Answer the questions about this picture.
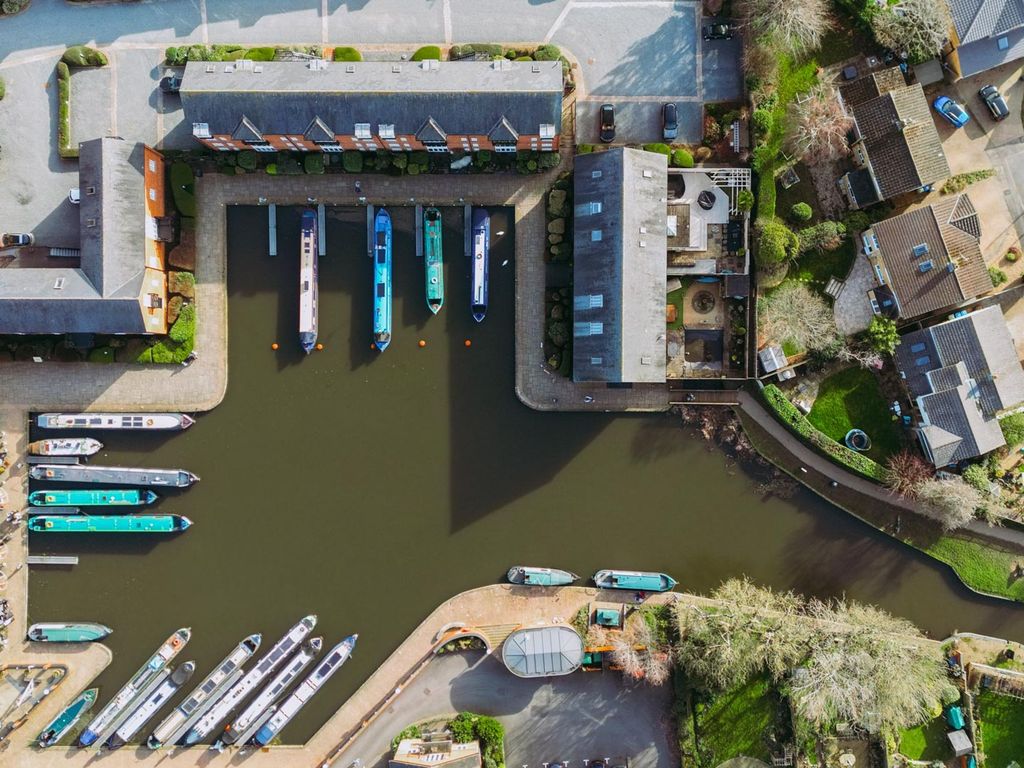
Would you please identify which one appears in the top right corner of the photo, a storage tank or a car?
car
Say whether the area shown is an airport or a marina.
marina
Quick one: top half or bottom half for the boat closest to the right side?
bottom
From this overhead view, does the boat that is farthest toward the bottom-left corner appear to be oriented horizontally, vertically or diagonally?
diagonally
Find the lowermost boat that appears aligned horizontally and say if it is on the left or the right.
left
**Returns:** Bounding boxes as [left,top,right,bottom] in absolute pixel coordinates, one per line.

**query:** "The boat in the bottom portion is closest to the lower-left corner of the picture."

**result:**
[36,688,100,750]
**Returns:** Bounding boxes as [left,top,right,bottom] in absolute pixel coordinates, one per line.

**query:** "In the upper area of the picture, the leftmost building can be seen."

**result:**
[0,134,178,348]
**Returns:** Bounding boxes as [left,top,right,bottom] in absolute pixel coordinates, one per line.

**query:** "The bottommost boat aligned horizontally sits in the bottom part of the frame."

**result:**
[26,621,114,642]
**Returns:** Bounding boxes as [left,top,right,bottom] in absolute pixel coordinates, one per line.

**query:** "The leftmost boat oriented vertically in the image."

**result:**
[300,207,319,355]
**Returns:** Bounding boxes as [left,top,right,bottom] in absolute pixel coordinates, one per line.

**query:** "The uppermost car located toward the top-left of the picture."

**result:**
[155,69,187,88]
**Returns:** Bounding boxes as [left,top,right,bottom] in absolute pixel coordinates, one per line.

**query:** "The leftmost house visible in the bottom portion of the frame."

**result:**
[380,719,481,768]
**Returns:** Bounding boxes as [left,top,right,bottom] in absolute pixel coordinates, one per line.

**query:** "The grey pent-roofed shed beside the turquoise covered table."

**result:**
[941,727,971,754]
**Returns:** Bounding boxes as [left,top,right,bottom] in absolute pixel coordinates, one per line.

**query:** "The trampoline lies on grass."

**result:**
[844,428,874,451]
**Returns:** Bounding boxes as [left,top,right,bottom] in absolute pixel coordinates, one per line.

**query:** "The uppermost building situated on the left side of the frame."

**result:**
[181,60,563,155]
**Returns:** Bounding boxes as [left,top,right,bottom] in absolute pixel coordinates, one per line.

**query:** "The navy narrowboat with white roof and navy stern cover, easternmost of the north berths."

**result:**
[470,208,489,324]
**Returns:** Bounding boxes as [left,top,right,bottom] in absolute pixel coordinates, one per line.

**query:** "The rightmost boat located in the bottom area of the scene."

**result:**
[594,570,679,590]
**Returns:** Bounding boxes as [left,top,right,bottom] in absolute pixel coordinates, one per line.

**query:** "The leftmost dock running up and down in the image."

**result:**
[267,206,279,255]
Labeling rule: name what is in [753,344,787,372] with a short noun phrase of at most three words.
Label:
shed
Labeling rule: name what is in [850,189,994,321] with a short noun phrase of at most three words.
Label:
house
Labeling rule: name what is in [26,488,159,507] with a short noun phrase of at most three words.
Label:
boat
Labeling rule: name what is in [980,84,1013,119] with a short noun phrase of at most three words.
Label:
car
